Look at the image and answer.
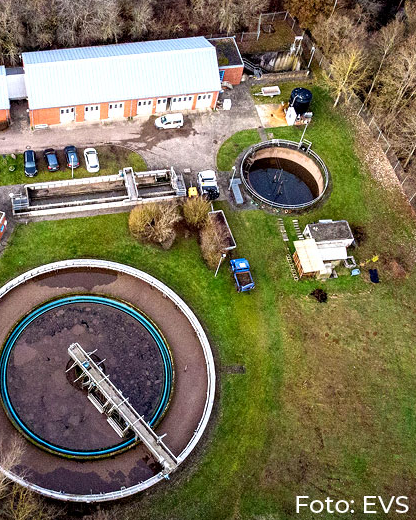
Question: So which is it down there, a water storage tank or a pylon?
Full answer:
It is a water storage tank that can be seen here.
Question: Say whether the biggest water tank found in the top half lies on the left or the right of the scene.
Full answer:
You can find the biggest water tank found in the top half on the right side of the picture.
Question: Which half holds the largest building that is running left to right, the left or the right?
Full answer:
It is on the left.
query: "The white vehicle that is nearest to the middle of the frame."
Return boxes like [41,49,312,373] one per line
[195,166,221,201]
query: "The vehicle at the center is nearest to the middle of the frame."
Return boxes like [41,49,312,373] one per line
[229,257,256,292]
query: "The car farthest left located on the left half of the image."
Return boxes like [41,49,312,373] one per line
[23,150,38,176]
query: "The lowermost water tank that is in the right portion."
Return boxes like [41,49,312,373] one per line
[241,137,329,210]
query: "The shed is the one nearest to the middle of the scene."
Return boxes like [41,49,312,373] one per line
[290,237,330,281]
